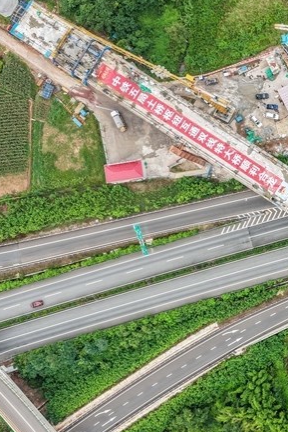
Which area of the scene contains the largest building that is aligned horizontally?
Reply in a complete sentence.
The largest building that is aligned horizontally is in the center part of the image.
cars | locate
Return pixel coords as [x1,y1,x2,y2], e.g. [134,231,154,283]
[29,301,43,309]
[254,92,269,100]
[265,103,279,109]
[264,112,279,120]
[204,77,218,85]
[250,114,262,127]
